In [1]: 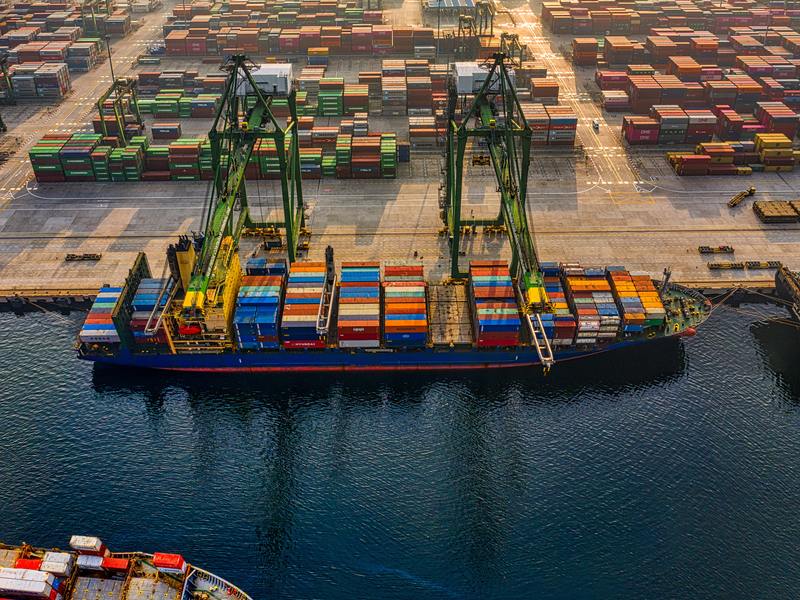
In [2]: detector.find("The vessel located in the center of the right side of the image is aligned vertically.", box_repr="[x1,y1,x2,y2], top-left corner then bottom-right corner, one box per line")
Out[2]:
[774,265,800,328]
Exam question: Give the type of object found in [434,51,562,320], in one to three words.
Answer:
container crane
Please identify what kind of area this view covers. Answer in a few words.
port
